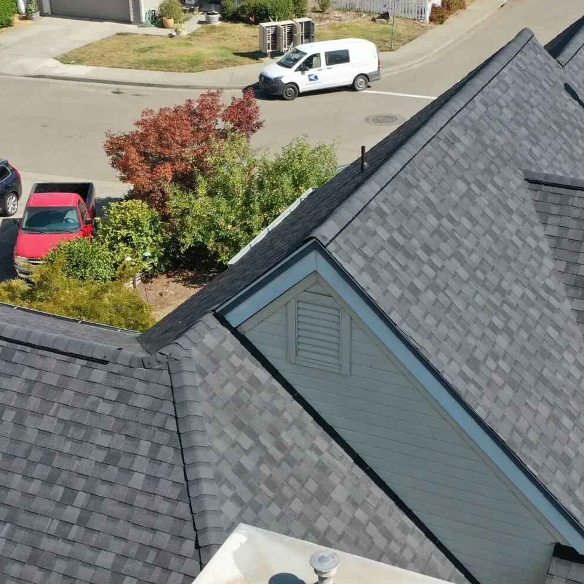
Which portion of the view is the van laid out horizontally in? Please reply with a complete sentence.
The van laid out horizontally appears toward the top of the photo.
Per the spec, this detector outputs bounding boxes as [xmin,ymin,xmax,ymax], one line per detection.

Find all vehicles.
[252,35,385,101]
[0,160,19,215]
[14,179,92,266]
